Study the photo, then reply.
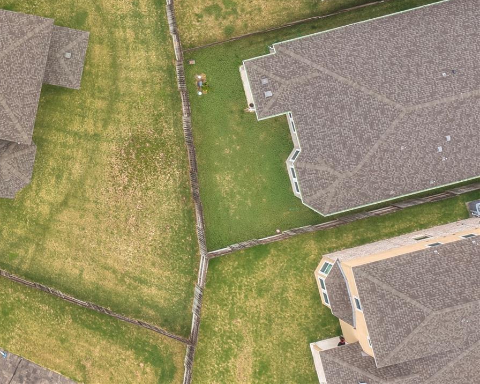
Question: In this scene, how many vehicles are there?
0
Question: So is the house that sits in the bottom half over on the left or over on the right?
right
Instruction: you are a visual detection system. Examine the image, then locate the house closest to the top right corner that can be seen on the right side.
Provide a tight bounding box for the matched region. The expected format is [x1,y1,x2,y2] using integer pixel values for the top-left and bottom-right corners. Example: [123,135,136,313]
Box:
[239,0,480,217]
